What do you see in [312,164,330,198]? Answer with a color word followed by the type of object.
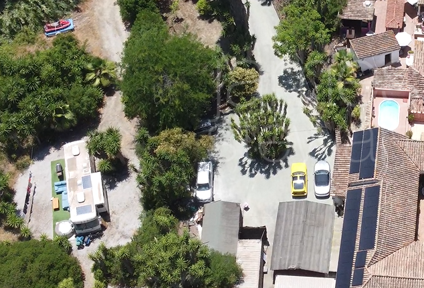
white car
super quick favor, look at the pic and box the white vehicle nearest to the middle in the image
[193,164,214,204]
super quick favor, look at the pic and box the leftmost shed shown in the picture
[201,201,243,262]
